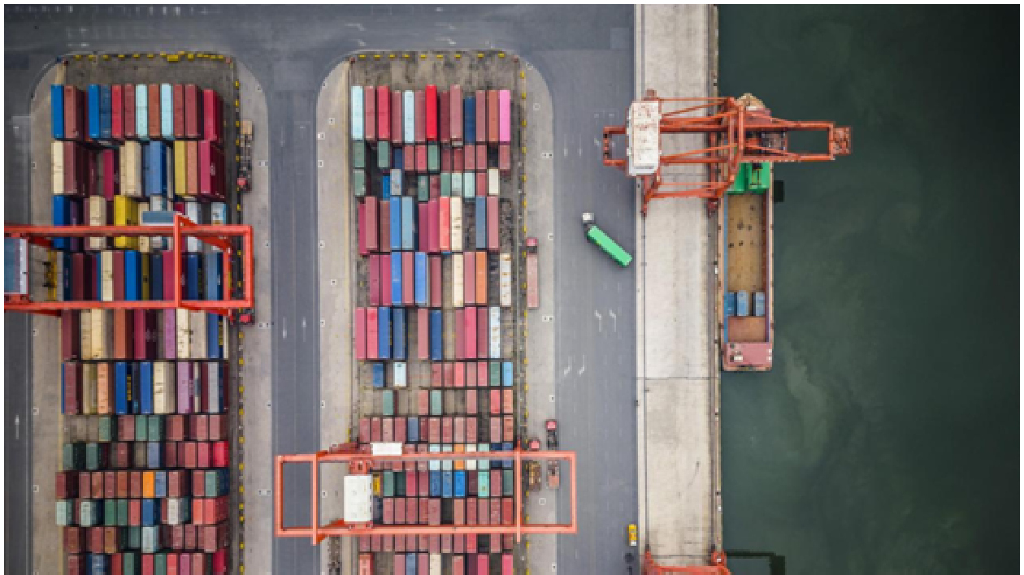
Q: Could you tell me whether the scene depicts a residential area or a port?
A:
port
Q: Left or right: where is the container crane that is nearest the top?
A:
right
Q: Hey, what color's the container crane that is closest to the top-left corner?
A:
red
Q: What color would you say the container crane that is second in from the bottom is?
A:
red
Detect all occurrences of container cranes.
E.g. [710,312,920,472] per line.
[0,211,256,324]
[640,539,736,575]
[603,86,852,224]
[277,433,575,545]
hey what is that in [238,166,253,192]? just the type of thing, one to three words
vehicle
